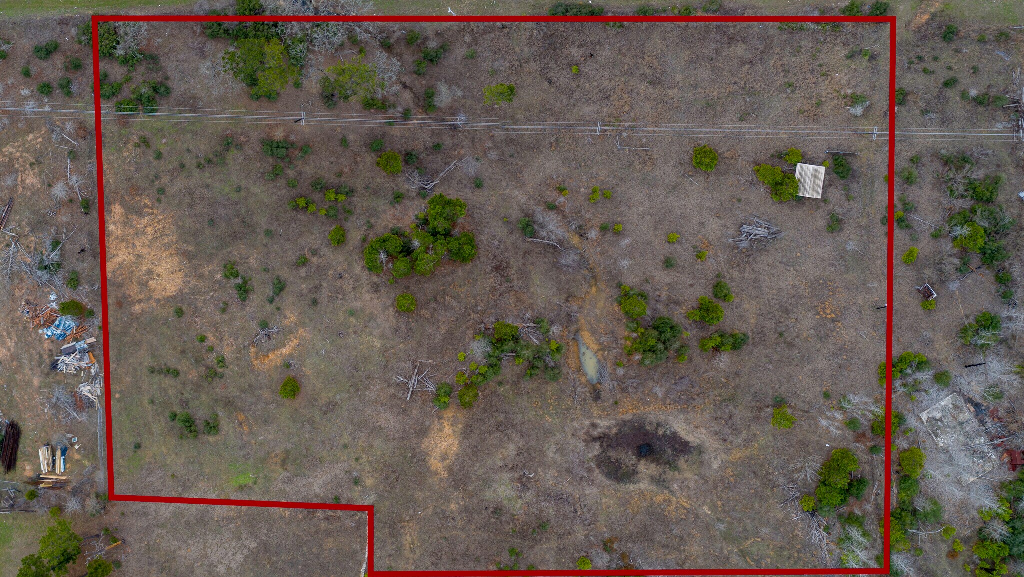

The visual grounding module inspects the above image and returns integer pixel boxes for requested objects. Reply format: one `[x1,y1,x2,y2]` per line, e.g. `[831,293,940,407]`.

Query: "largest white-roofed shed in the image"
[792,163,827,199]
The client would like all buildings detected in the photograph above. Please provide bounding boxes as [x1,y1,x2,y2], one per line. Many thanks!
[919,284,939,301]
[792,163,827,199]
